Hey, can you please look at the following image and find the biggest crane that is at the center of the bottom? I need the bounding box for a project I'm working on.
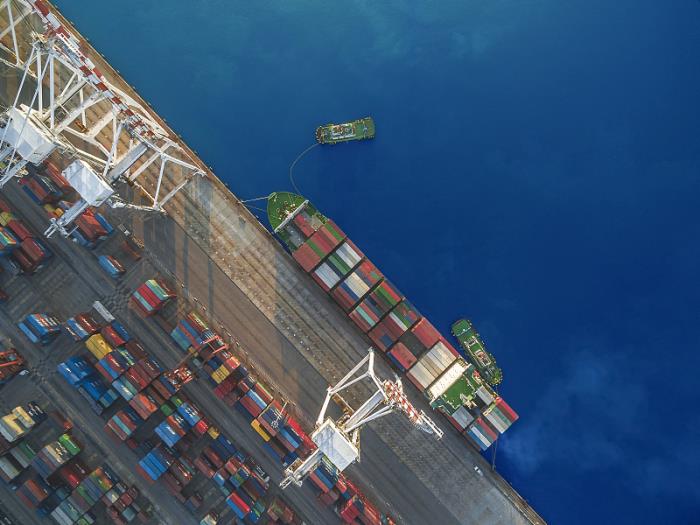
[277,344,440,494]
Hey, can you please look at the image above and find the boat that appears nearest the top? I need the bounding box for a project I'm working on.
[318,118,376,141]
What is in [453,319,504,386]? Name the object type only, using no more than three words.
boat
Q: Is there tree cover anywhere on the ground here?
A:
No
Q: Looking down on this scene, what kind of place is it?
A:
port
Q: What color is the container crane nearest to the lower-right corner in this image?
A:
white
